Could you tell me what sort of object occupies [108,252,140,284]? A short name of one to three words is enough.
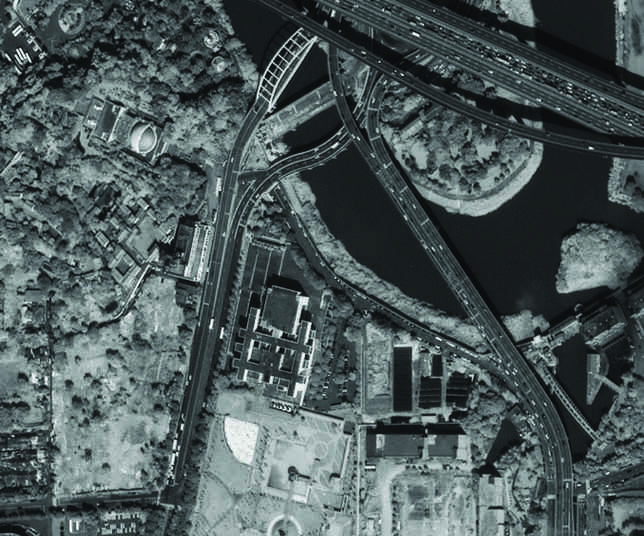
house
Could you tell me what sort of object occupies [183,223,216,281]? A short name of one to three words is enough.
building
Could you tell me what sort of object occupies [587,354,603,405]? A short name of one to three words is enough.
pier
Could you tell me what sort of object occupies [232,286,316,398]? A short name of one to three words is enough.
building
